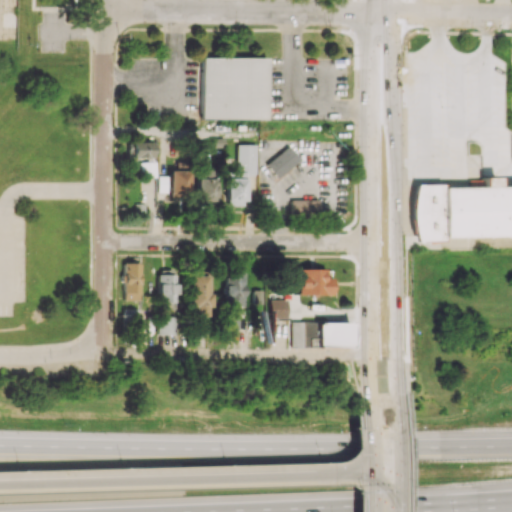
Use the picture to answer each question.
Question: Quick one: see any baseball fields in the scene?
No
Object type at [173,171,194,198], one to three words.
house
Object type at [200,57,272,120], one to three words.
building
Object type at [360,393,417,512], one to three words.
bridge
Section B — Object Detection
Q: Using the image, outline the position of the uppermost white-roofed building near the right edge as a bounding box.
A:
[418,178,512,244]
